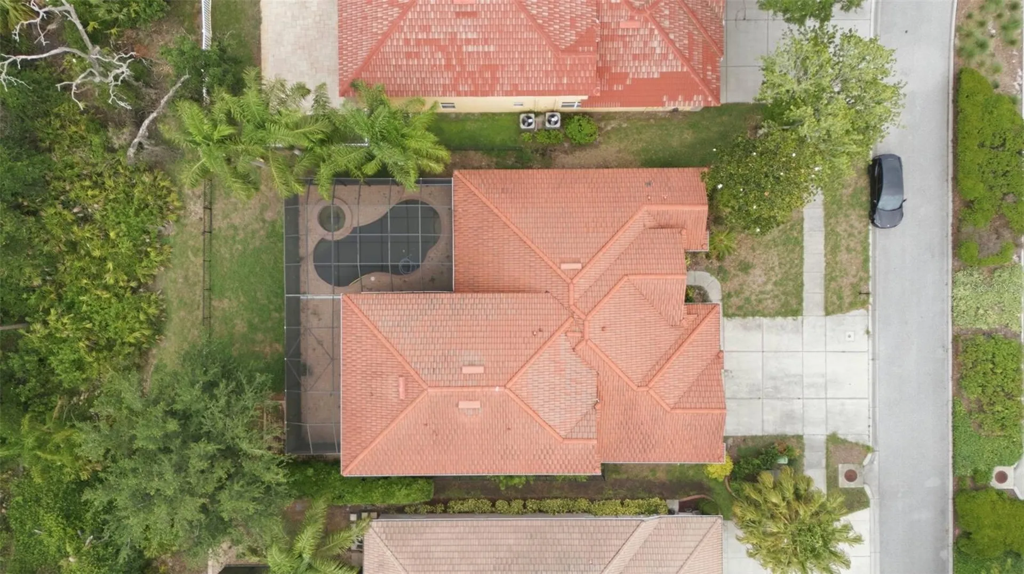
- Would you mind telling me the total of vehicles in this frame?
one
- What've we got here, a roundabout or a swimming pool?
swimming pool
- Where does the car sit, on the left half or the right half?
right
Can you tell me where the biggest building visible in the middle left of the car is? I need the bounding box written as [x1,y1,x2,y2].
[339,167,728,478]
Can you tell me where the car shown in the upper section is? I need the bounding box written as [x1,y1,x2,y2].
[868,154,907,227]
